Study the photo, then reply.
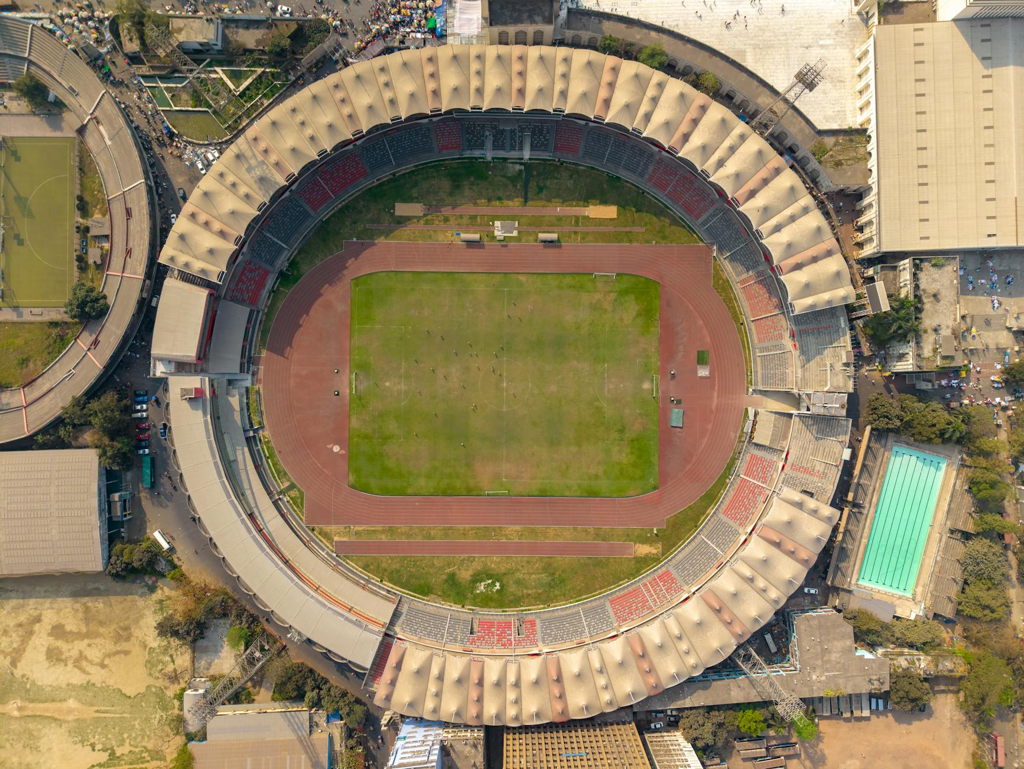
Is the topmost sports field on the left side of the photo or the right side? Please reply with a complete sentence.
The topmost sports field appears in the left half of the scene.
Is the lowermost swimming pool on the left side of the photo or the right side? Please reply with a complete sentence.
It is on the right.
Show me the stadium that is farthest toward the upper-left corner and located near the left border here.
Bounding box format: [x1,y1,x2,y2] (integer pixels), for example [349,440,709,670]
[0,14,165,451]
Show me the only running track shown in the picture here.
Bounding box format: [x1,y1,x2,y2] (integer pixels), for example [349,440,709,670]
[253,241,763,528]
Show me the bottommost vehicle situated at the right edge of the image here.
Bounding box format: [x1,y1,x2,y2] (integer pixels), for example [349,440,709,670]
[990,732,1005,766]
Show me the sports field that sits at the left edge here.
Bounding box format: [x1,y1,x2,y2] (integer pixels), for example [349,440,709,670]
[0,136,76,308]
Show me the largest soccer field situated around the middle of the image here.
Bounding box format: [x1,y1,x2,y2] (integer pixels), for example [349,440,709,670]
[348,271,660,497]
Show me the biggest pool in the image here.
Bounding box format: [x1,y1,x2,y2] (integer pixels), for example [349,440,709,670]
[844,435,961,618]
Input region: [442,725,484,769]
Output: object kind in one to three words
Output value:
building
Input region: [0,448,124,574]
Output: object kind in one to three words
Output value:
shed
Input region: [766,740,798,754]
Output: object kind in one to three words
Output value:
vehicle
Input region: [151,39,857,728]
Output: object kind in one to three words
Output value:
stadium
